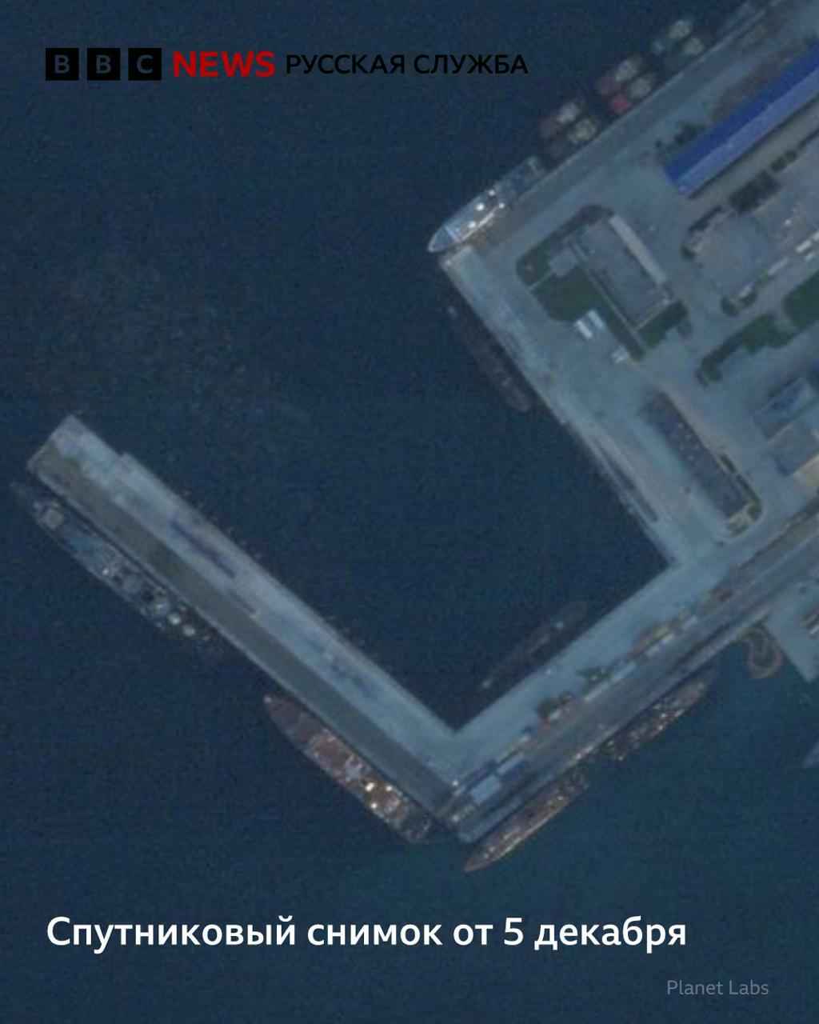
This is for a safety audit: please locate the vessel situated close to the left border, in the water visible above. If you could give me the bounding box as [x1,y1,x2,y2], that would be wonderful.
[9,484,227,663]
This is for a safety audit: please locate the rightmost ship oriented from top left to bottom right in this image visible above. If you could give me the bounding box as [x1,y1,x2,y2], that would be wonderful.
[459,305,528,411]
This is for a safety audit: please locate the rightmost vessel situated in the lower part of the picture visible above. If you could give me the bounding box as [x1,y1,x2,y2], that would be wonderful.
[603,670,718,764]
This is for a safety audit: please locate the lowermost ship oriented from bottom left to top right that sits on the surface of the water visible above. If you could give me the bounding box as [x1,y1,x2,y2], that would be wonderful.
[466,765,596,870]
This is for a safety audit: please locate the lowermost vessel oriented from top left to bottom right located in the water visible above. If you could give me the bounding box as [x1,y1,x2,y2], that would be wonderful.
[264,695,441,851]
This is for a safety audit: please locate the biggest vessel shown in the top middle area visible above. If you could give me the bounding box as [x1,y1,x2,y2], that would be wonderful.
[428,154,550,251]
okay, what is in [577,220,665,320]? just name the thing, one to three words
building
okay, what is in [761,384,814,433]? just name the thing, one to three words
shed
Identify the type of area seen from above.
port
